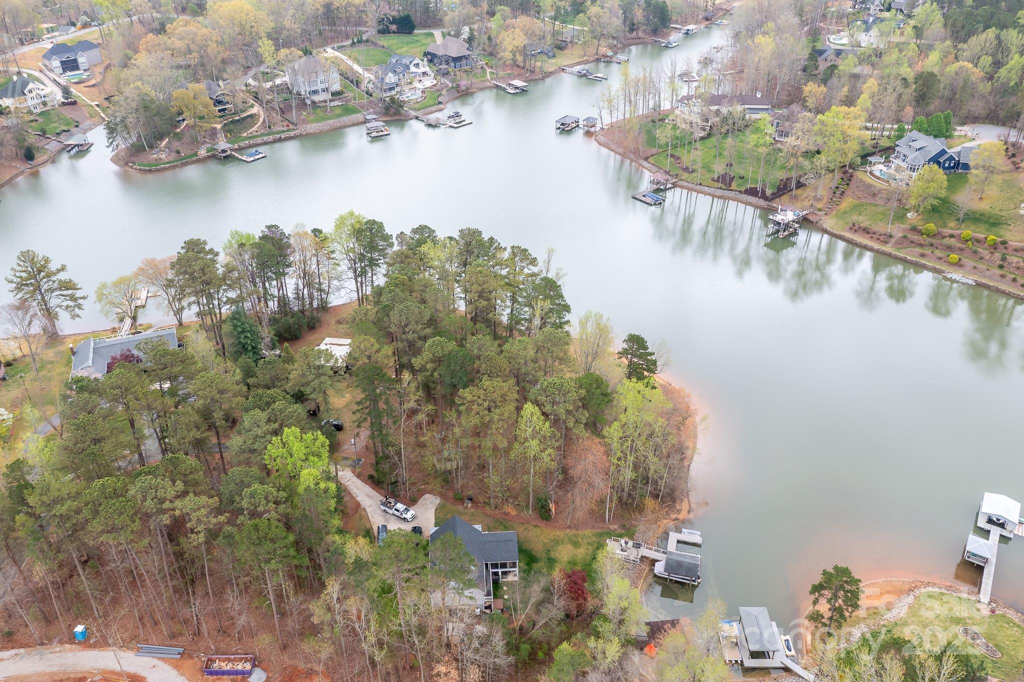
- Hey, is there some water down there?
Yes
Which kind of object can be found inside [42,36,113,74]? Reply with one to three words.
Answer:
house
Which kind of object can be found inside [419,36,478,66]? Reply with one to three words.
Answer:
house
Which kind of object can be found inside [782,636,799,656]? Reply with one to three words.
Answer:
boat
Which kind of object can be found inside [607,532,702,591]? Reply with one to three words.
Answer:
pier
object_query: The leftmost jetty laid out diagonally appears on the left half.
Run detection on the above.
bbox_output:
[115,288,160,330]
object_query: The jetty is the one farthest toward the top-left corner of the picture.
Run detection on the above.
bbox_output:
[61,138,93,154]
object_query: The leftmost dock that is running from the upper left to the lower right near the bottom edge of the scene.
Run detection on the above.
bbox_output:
[736,608,819,682]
